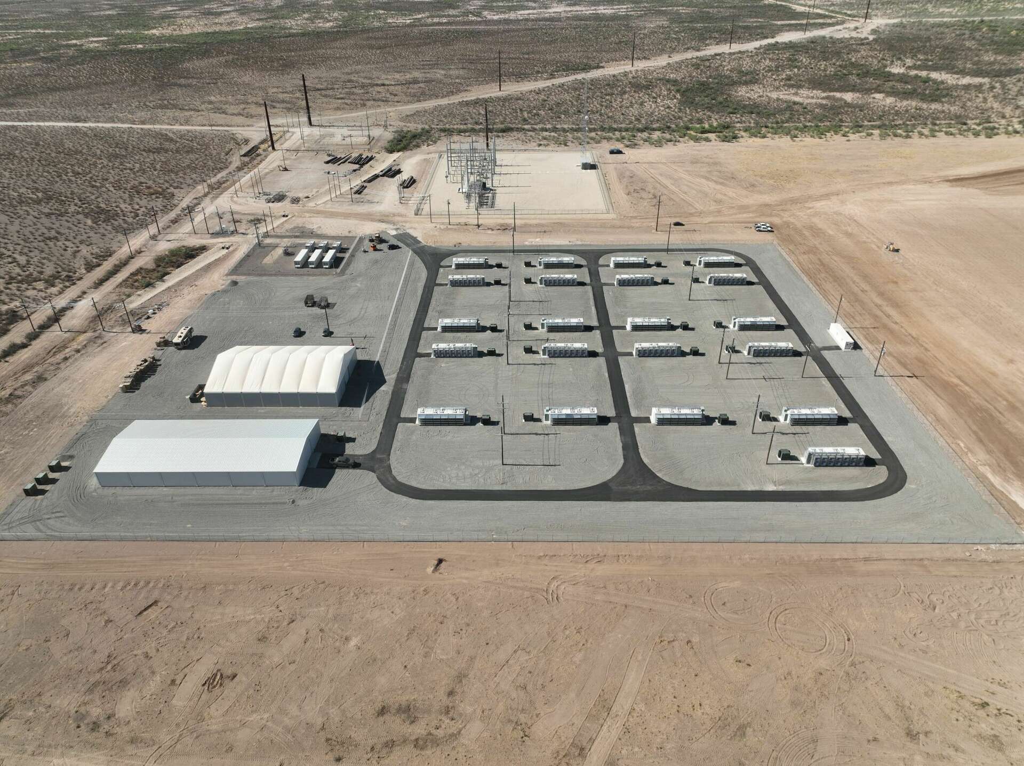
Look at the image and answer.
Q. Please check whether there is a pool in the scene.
No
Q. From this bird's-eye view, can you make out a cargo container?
Yes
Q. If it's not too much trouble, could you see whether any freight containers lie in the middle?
Yes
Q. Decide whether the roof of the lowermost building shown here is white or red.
white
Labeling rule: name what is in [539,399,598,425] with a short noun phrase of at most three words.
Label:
shipping container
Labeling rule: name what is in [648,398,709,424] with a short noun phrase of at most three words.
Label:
shipping container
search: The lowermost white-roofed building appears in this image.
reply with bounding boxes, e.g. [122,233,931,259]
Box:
[91,419,321,486]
